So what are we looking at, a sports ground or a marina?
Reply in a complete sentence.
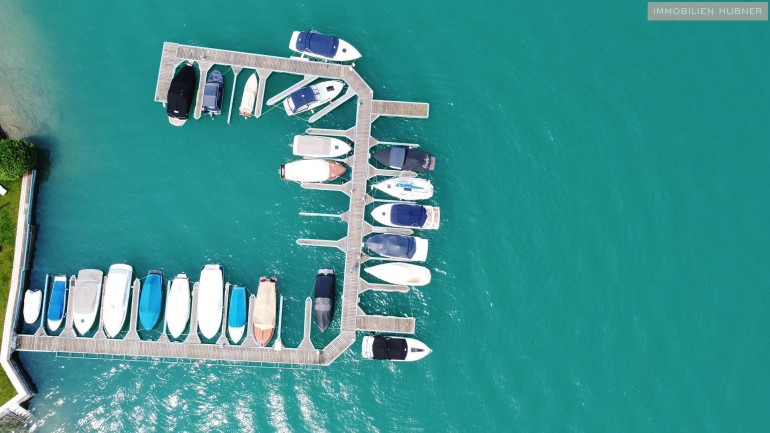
This looks like a marina.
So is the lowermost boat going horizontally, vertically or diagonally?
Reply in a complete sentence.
The lowermost boat is laid out horizontally.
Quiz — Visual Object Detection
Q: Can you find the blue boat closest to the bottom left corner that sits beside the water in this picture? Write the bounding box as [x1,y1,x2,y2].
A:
[48,272,69,332]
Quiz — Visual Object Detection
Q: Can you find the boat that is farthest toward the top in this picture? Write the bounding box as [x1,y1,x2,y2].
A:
[289,29,362,62]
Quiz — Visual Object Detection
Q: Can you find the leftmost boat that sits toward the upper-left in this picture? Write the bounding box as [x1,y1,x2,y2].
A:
[168,61,197,129]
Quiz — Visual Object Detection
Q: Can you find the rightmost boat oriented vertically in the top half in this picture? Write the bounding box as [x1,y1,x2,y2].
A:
[240,74,259,119]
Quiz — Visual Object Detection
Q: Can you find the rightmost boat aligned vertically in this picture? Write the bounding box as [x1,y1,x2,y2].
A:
[314,267,335,333]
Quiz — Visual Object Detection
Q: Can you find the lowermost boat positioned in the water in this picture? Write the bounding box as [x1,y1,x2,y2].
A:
[362,335,433,362]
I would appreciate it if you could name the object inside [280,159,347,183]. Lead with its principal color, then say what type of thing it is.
white boat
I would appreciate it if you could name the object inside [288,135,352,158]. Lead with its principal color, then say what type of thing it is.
white boat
